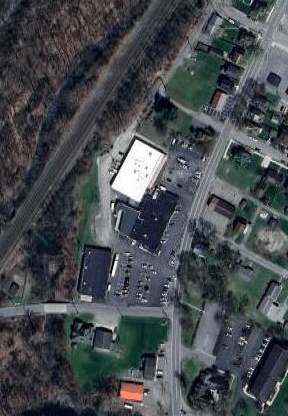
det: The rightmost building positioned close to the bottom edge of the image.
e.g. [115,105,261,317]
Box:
[245,341,288,400]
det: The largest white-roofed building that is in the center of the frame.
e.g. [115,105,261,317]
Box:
[112,139,168,202]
